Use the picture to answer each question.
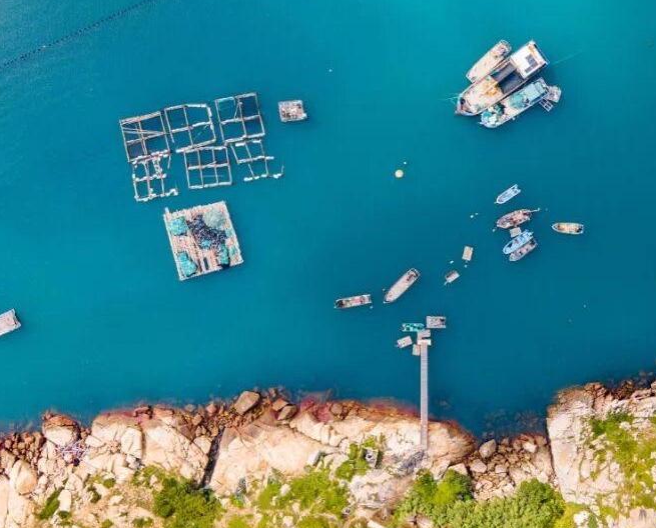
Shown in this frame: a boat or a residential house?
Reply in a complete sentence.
Of the two, only a boat appears.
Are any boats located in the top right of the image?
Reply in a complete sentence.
Yes, there is a boat in the top right of the image.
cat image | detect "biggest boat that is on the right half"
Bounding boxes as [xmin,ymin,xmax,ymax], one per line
[455,38,551,115]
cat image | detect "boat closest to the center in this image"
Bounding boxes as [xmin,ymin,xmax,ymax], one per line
[335,294,371,307]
